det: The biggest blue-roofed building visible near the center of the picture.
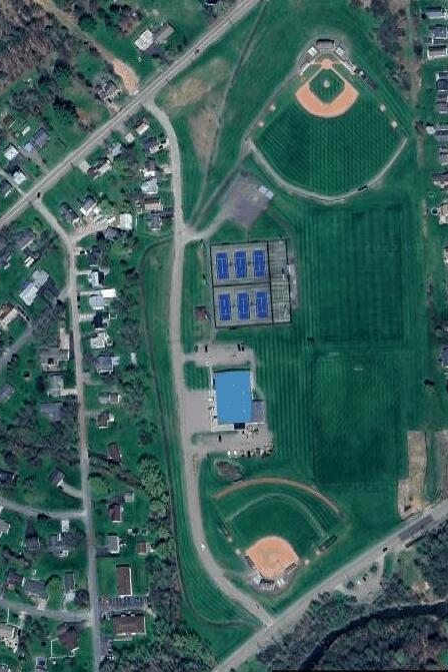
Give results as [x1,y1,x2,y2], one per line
[212,369,266,432]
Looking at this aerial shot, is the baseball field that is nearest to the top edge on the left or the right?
right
